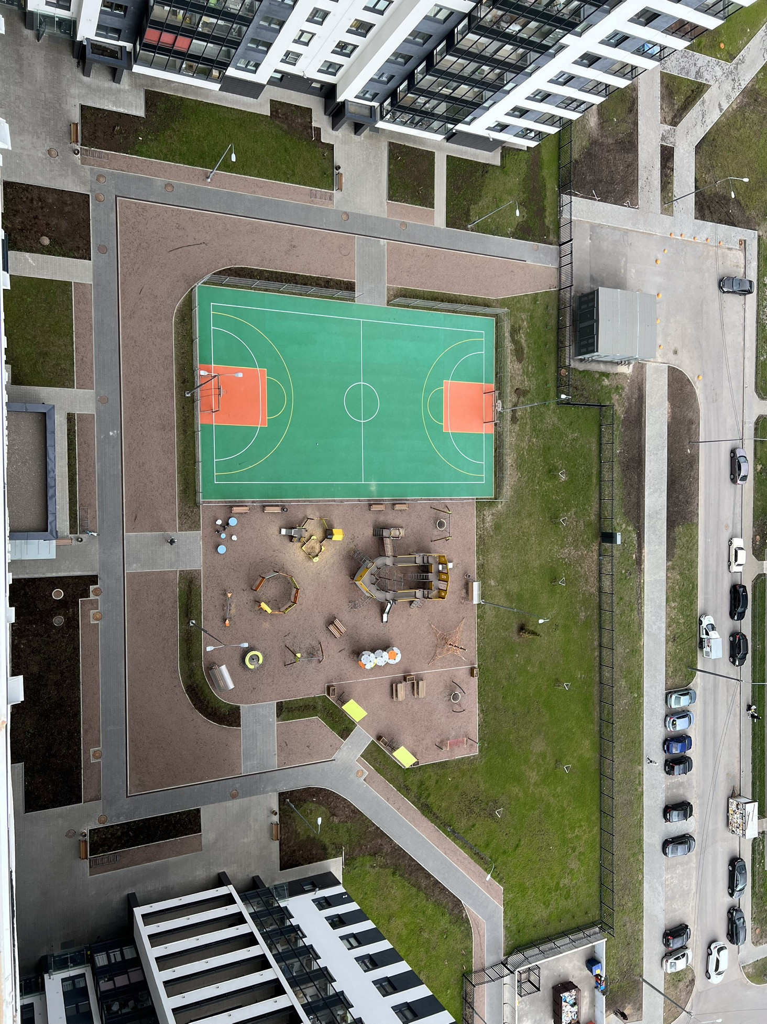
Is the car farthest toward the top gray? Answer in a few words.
Yes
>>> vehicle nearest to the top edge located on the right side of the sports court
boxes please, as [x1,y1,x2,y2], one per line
[716,274,746,296]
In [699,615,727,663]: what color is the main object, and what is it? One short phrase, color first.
white truck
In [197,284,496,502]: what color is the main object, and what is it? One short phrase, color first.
green sports court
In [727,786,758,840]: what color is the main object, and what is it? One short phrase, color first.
white trailer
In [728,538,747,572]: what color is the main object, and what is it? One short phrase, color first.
white car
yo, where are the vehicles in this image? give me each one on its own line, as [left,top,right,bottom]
[706,942,726,983]
[663,923,692,950]
[716,274,746,296]
[666,689,697,708]
[728,583,747,622]
[728,538,747,572]
[728,857,747,898]
[662,946,693,973]
[699,615,727,663]
[665,710,694,731]
[726,906,747,949]
[729,632,748,667]
[730,447,749,484]
[663,735,693,754]
[664,754,695,777]
[663,833,695,857]
[663,800,694,823]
